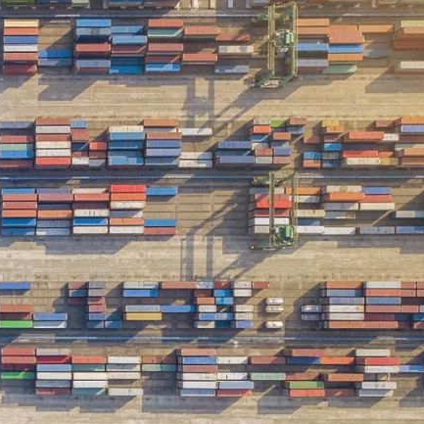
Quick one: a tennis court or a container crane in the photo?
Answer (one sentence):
The one in the frame is a container crane.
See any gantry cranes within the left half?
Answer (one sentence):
No, the scene shows no gantry crane within the left half.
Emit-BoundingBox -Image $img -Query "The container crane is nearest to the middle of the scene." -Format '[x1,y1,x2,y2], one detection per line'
[250,174,299,250]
